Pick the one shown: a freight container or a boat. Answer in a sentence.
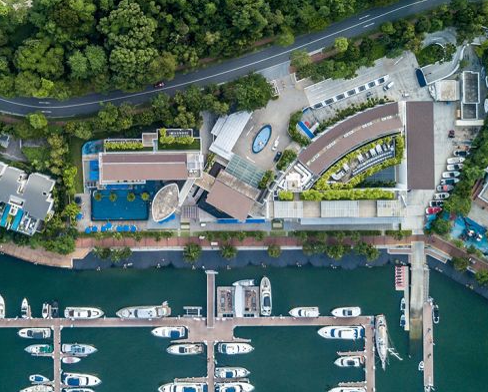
The image shows a boat.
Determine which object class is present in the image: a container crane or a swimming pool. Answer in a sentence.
There is a swimming pool in the scene.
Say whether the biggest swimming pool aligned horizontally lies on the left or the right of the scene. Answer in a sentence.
The biggest swimming pool aligned horizontally is on the left side of the image.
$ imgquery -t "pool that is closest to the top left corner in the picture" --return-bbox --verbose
[82,140,105,154]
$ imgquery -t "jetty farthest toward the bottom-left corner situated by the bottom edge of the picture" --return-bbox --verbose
[30,327,90,392]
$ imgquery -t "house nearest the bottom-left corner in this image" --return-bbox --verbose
[0,166,59,237]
